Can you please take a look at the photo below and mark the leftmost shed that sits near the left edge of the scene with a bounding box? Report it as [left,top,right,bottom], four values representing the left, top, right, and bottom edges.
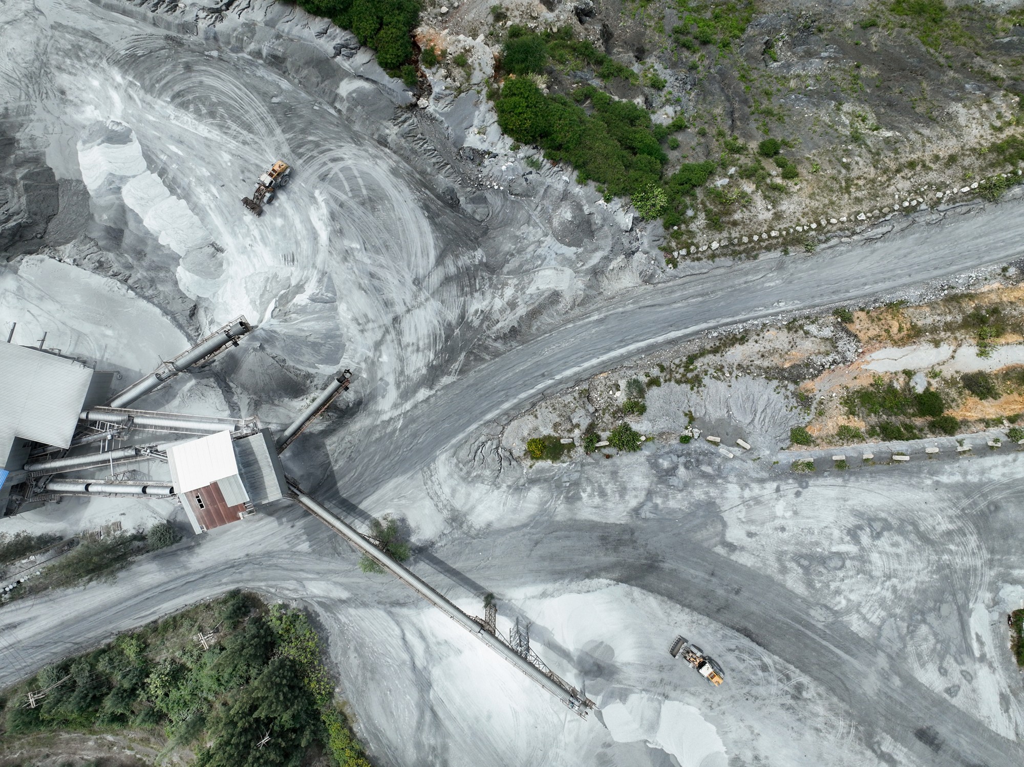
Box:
[0,323,134,470]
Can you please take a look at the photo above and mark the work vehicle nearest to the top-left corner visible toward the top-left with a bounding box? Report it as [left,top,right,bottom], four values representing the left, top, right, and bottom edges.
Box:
[240,152,289,217]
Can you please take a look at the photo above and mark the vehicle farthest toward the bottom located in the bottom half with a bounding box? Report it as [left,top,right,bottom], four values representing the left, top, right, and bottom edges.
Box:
[666,632,727,691]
